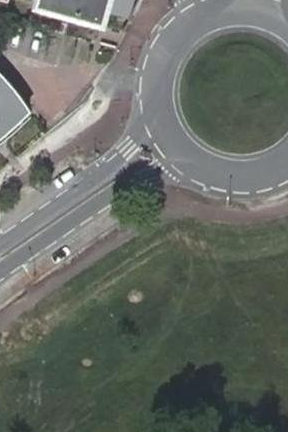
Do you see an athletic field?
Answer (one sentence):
No, there's no athletic field here.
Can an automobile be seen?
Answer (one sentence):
Yes, I can see an automobile in this picture.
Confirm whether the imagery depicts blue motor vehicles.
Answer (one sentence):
No, no blue motor vehicle can be seen from above.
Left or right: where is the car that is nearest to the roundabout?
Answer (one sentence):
It is on the left.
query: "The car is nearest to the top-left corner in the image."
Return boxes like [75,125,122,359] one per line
[10,28,22,49]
